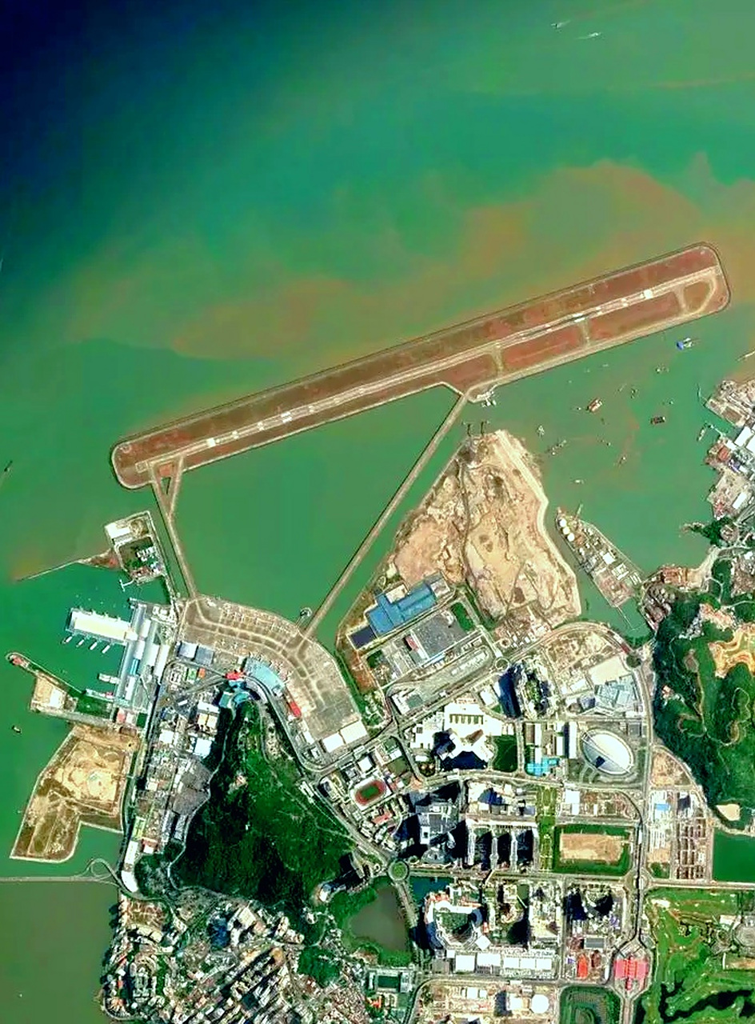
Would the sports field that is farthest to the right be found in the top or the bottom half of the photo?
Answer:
bottom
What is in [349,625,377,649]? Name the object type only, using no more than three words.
shed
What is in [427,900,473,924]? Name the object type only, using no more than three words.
building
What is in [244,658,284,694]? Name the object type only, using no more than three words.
building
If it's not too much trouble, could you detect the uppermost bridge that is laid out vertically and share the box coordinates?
[148,470,196,598]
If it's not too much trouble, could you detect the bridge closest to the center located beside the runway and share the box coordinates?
[303,396,467,642]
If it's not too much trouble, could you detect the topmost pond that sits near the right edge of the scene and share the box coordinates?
[712,828,755,883]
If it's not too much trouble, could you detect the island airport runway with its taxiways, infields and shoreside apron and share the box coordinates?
[110,240,732,748]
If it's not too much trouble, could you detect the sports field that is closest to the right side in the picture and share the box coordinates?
[552,824,632,875]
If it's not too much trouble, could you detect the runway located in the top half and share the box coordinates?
[133,265,717,472]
